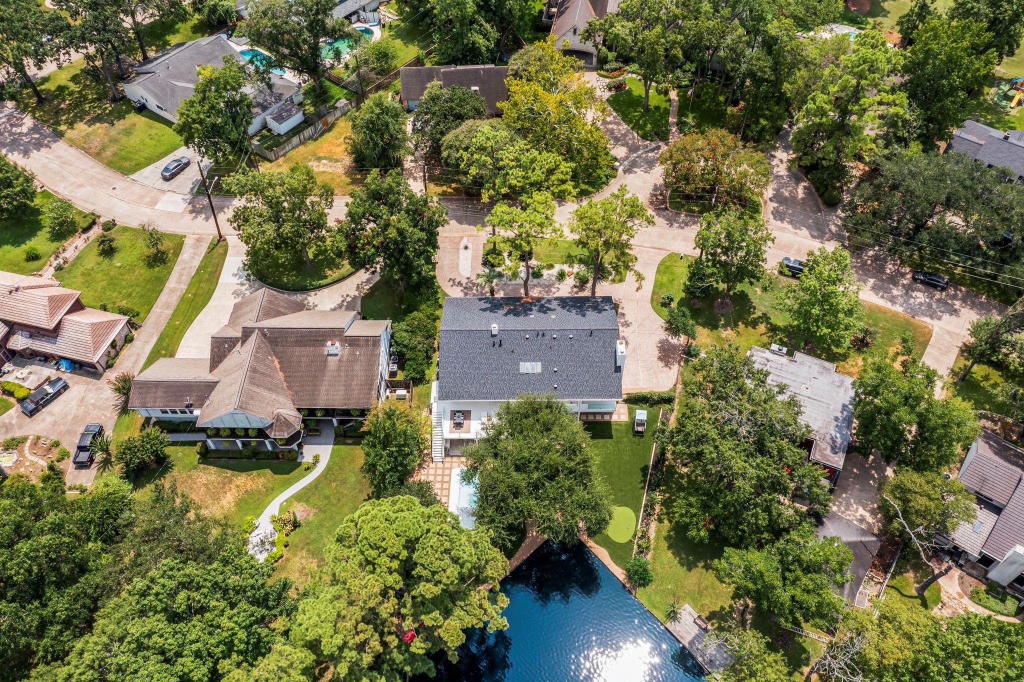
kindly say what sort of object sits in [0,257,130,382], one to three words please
house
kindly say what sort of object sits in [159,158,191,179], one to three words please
car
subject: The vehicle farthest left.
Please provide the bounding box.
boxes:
[17,380,65,416]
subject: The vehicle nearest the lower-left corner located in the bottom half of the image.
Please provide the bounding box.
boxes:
[69,425,100,466]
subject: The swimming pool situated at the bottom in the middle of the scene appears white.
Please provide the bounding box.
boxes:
[449,469,507,532]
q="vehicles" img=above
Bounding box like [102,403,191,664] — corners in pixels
[780,258,813,278]
[17,380,65,416]
[69,425,100,466]
[915,271,951,291]
[159,158,191,179]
